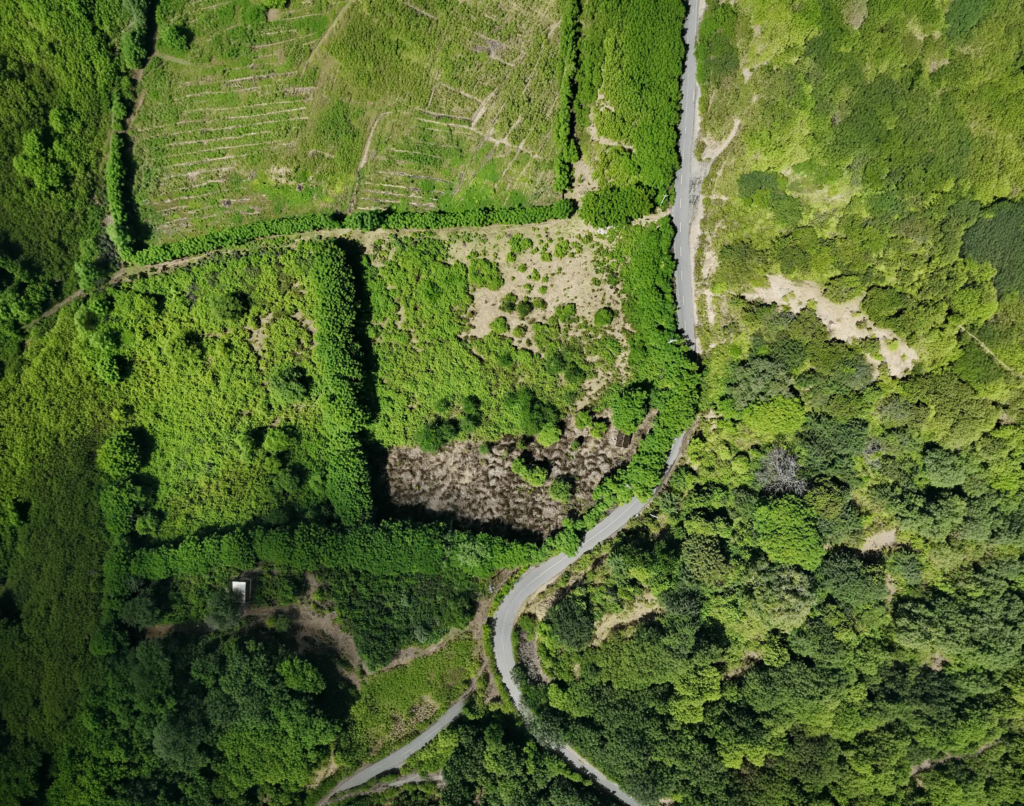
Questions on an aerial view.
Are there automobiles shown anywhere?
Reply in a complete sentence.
No, I find no automobile anywhere in the image.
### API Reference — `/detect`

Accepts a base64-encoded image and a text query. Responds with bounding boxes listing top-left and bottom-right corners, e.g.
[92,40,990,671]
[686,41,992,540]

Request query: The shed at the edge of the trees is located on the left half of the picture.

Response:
[232,577,250,603]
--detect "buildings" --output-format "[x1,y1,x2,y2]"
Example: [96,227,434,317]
[614,423,630,447]
[232,577,250,603]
